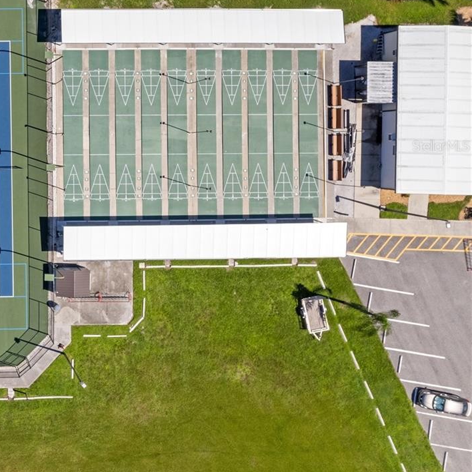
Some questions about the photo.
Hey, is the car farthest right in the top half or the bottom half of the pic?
bottom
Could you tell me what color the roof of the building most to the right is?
white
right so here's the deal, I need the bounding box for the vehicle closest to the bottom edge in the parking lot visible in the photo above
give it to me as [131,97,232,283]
[417,387,472,416]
